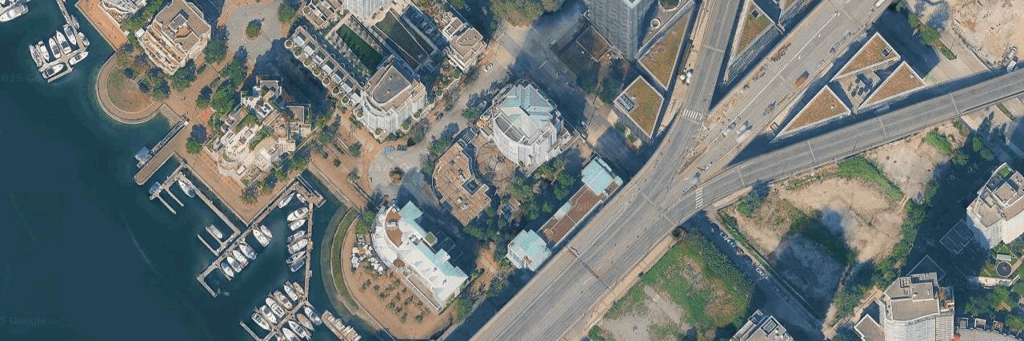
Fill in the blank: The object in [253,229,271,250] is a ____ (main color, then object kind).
white boat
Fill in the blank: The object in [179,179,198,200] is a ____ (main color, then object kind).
white boat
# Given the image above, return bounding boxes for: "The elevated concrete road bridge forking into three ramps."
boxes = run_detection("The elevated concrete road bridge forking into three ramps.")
[470,0,1024,341]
